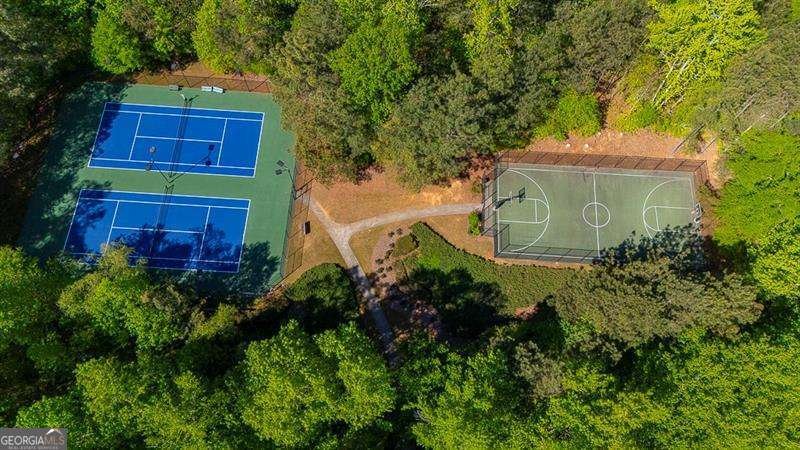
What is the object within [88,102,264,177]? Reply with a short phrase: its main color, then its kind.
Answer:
blue tennis court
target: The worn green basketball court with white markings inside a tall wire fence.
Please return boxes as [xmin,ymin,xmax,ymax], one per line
[481,161,706,268]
